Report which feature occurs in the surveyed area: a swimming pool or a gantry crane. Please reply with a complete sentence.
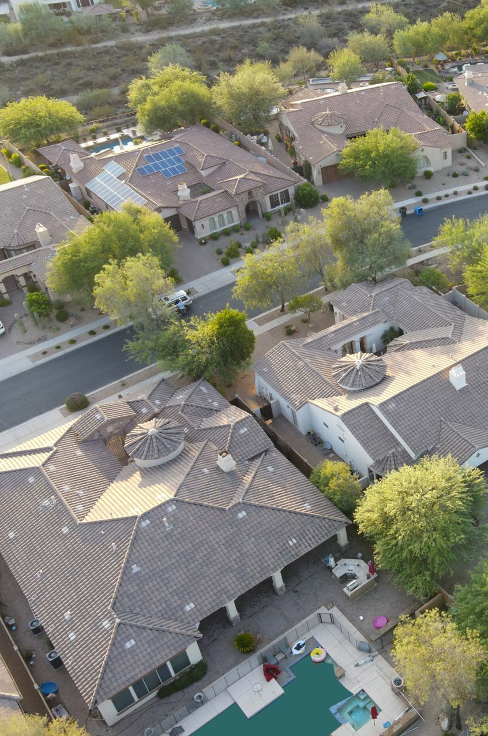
There is a swimming pool in the scene.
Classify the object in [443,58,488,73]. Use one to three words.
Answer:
swimming pool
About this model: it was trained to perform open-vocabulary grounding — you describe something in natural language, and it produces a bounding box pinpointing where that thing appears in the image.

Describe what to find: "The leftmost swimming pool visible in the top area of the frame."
[88,126,155,154]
